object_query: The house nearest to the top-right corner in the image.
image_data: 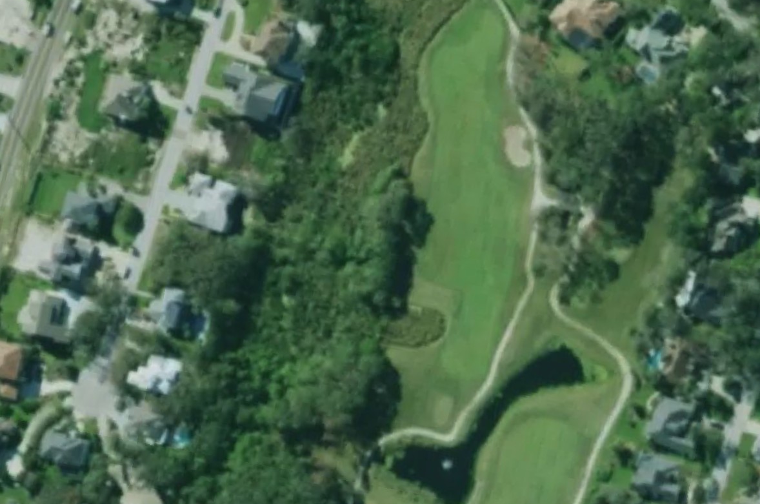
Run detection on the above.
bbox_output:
[625,8,689,51]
